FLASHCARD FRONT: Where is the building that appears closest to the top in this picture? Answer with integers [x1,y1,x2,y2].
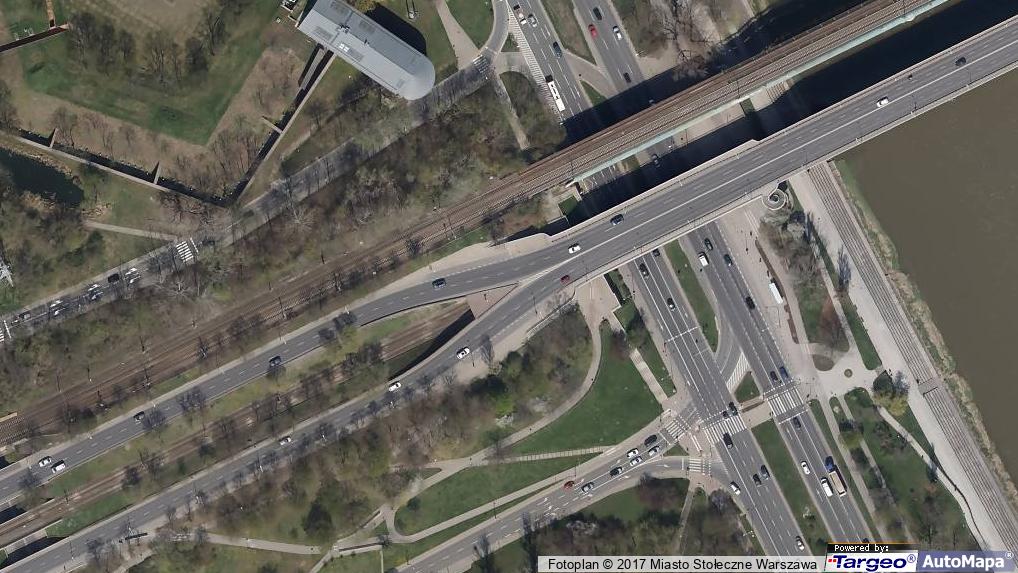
[297,0,430,97]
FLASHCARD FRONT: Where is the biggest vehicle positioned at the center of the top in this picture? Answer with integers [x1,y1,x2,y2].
[546,78,567,111]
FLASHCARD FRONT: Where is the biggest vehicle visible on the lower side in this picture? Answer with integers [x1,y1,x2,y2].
[826,464,847,496]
